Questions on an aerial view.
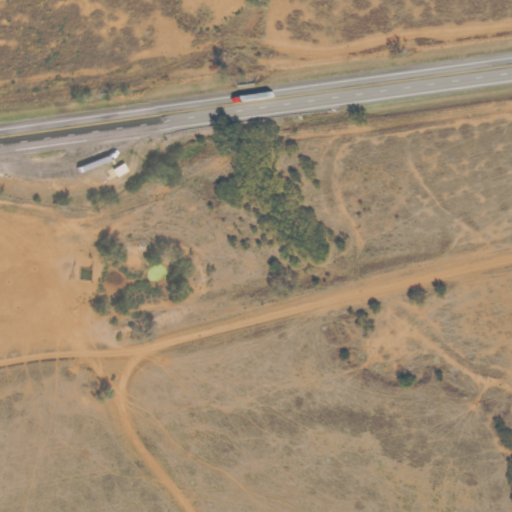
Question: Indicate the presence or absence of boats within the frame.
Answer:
No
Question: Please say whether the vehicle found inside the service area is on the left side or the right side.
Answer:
left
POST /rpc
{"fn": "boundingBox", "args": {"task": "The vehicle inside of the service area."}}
[78,152,118,172]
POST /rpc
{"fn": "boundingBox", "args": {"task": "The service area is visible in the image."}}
[0,127,187,181]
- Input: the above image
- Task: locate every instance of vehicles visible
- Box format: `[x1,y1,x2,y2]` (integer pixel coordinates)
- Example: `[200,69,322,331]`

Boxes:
[78,152,118,172]
[232,91,274,102]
